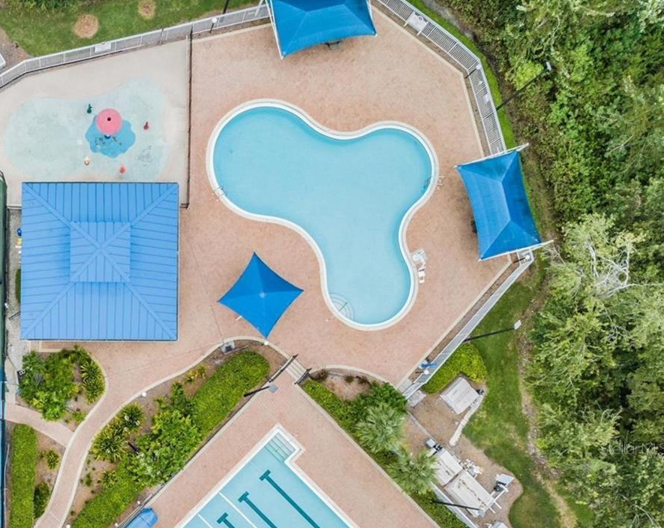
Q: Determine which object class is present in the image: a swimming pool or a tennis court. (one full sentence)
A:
Of the two, only a swimming pool appears.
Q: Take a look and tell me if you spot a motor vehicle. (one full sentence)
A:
No, I can't see a single motor vehicle in this photo.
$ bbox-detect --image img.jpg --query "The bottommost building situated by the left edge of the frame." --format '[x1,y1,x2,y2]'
[19,181,181,344]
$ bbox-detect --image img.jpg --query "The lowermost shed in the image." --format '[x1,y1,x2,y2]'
[434,378,483,413]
